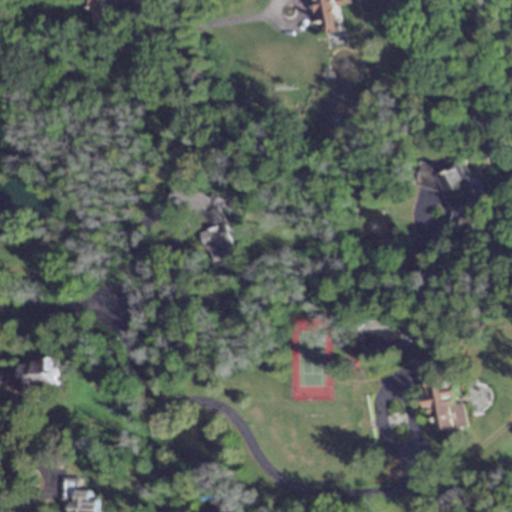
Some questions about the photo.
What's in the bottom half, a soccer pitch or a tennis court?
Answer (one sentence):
The one visible in the bottom half is a tennis court.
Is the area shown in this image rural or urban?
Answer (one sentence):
The land in this view is best described as rural.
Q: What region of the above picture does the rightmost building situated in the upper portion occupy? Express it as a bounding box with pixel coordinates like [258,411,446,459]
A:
[417,162,472,196]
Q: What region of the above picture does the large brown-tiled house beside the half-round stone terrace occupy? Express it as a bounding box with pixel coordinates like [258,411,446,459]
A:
[422,381,472,430]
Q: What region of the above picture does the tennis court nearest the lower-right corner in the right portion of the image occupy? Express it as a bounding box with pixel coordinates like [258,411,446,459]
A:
[292,318,334,400]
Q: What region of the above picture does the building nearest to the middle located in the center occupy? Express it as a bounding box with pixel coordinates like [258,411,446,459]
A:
[202,203,236,262]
